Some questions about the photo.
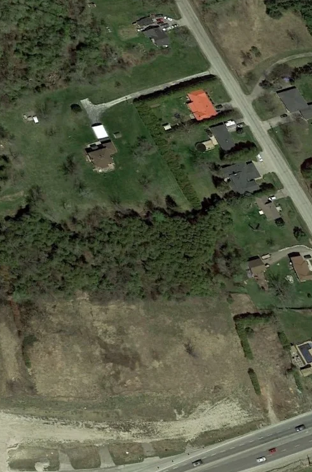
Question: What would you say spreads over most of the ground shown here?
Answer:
grass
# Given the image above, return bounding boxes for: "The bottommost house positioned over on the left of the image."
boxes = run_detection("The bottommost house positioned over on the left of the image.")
[86,139,116,173]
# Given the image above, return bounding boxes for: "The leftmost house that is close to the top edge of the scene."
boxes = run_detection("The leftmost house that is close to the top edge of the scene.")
[136,15,170,51]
